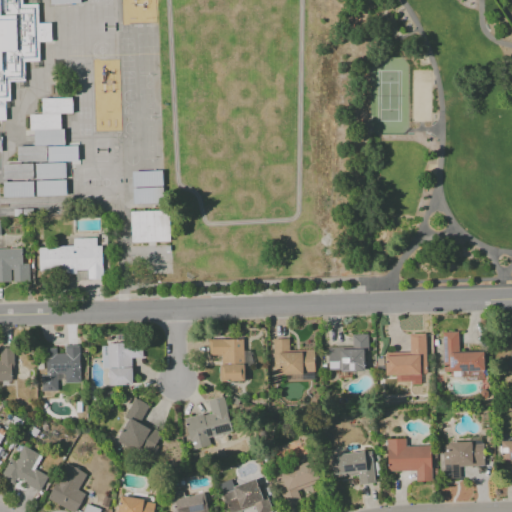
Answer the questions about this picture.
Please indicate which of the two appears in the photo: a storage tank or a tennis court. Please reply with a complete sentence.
The one in the frame is a tennis court.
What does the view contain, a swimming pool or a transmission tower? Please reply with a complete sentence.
I can see a swimming pool in this picture.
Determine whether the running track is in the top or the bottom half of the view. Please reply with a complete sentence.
The running track is in the top half of the image.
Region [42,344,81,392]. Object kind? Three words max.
house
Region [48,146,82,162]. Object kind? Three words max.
building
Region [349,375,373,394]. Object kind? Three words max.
swimming pool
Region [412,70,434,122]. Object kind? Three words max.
sports court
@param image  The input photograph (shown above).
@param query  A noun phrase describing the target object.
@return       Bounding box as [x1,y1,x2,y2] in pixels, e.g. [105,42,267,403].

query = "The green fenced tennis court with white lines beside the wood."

[372,57,411,134]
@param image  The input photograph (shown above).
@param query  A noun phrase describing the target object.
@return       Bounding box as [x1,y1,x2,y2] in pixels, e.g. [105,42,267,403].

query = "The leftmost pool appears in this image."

[50,402,72,416]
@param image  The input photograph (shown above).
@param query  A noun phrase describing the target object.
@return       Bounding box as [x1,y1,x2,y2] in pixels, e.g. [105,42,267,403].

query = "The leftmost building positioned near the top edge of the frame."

[0,0,52,122]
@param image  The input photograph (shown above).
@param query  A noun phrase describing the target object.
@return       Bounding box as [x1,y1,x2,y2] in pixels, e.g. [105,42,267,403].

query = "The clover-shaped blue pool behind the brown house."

[455,414,480,436]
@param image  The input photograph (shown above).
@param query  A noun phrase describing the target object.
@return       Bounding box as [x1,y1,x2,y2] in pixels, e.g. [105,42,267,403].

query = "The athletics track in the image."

[168,0,304,225]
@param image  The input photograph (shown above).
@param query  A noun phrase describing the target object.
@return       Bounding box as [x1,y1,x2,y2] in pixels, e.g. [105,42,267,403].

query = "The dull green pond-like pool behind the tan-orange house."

[284,382,306,402]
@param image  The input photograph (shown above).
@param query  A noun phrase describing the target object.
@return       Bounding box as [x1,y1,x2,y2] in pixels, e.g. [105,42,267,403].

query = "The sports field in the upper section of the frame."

[160,0,304,280]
